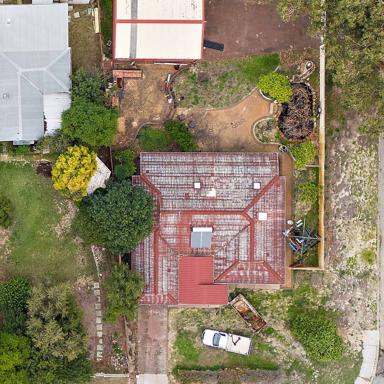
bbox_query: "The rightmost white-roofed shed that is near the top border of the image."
[114,0,204,61]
